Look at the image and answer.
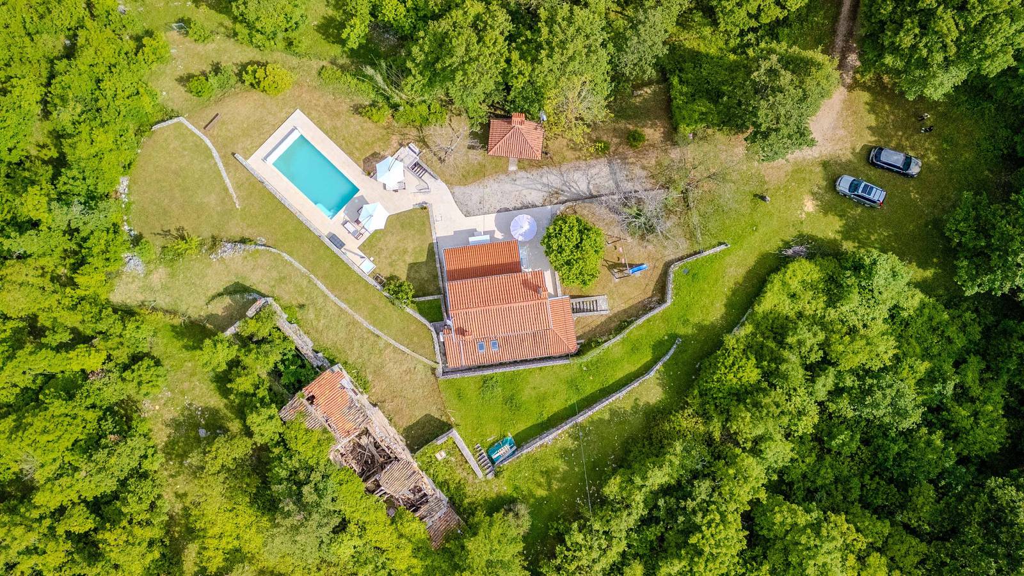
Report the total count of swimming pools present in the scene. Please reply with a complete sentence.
Only 1 swimming pool is visible.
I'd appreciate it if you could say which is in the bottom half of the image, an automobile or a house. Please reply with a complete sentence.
It is a house that can be seen in the bottom half of the image.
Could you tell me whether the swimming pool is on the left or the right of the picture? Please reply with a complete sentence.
The swimming pool sits on the left side.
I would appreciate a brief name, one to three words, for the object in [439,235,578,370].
house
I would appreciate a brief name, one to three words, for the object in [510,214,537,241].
umbrella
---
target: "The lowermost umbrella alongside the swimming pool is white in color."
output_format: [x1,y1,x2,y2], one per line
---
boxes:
[354,198,392,236]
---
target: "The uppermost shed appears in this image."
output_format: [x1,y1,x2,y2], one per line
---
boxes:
[486,114,545,161]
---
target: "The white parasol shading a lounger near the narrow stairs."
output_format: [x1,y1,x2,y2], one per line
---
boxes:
[374,152,409,191]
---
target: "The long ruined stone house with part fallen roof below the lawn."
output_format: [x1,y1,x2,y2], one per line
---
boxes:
[280,355,469,549]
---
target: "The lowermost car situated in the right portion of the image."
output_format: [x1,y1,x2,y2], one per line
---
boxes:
[834,174,892,209]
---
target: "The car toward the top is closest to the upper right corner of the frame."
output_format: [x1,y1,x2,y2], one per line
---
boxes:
[867,145,924,179]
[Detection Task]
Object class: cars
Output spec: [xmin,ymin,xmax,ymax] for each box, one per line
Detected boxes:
[867,145,924,179]
[834,174,892,209]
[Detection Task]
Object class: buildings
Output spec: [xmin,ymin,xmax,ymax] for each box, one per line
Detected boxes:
[486,114,545,161]
[280,355,469,549]
[439,235,578,370]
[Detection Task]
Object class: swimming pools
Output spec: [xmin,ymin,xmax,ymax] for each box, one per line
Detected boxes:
[269,131,362,223]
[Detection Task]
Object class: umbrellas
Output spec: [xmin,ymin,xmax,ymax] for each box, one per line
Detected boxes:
[374,152,409,191]
[510,214,537,241]
[354,198,392,236]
